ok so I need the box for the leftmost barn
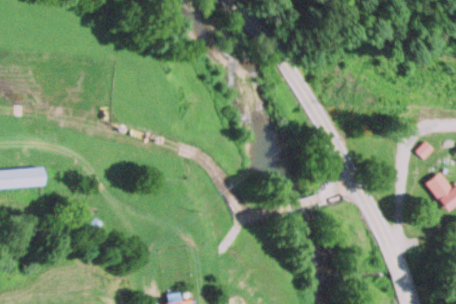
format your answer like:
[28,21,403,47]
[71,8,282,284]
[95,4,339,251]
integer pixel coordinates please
[0,164,48,188]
